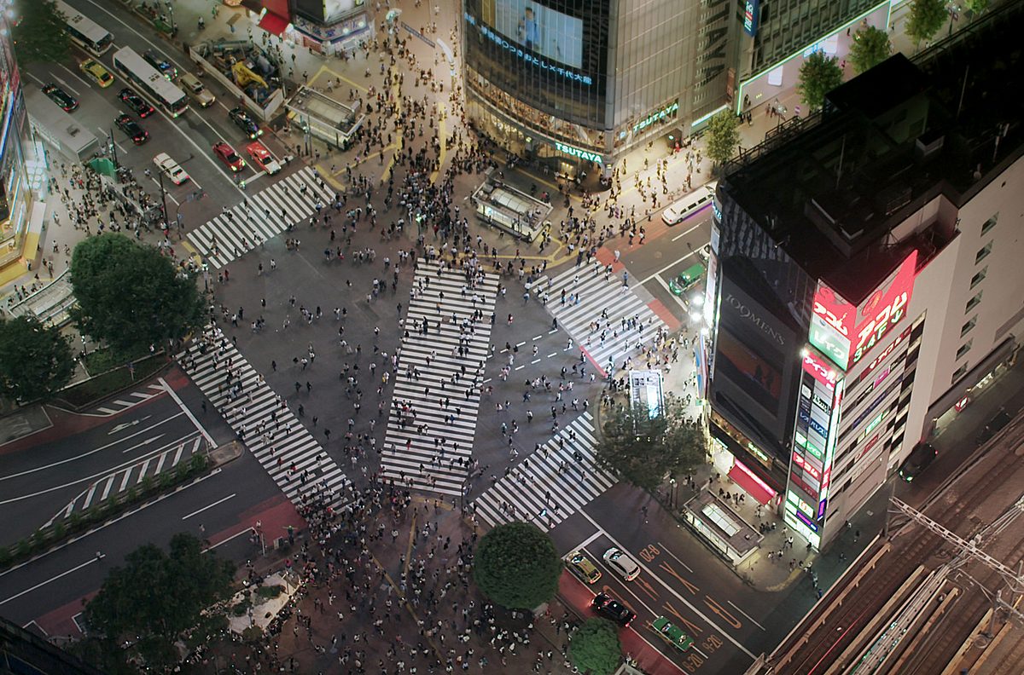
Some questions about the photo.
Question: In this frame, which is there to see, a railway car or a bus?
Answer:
bus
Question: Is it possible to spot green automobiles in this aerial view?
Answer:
Yes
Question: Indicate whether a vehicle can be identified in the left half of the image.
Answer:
Yes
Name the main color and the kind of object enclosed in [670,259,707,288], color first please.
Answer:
green car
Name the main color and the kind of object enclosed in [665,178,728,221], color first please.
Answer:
white car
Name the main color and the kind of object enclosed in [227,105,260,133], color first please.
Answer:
black car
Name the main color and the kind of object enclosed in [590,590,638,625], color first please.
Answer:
black car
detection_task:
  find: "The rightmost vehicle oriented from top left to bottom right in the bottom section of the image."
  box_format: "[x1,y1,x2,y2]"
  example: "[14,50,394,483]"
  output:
[648,614,697,651]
